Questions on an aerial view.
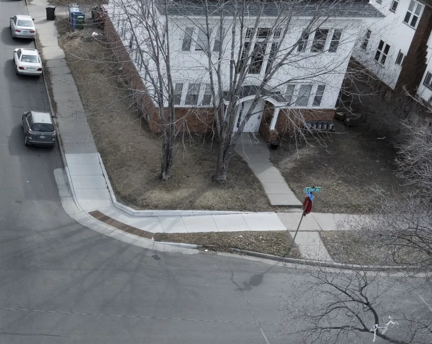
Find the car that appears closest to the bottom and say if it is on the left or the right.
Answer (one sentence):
You can find the car that appears closest to the bottom on the left side of the picture.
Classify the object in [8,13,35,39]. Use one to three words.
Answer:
car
